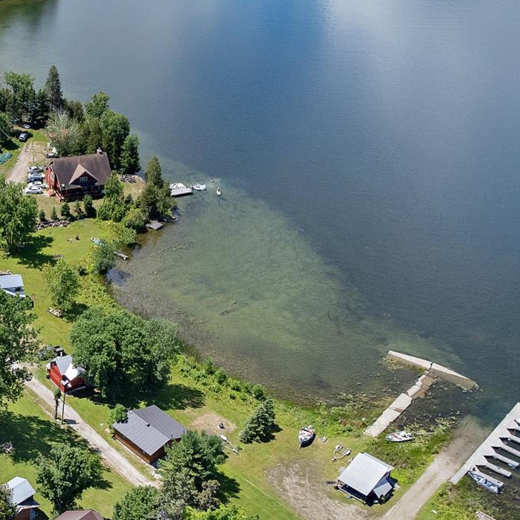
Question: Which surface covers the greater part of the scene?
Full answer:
The scene is dominated by water.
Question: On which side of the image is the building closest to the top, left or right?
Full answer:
The building closest to the top is on the left side of the image.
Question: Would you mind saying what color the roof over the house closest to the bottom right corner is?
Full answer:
The color of the roof on the house closest to the bottom right corner is white.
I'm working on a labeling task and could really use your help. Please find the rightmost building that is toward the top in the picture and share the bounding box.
[46,145,116,205]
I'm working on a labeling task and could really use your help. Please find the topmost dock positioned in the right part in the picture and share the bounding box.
[365,351,476,437]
